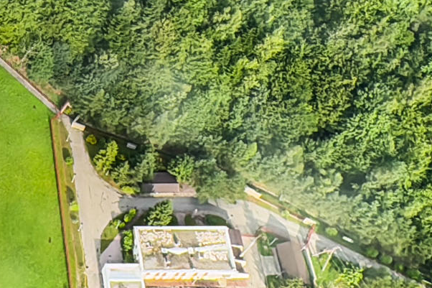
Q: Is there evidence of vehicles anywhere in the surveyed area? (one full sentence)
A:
No, there isn't any vehicle down there.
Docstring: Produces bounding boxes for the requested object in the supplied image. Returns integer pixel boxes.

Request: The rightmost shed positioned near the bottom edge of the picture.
[272,236,310,282]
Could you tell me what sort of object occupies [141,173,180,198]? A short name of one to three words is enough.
shed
